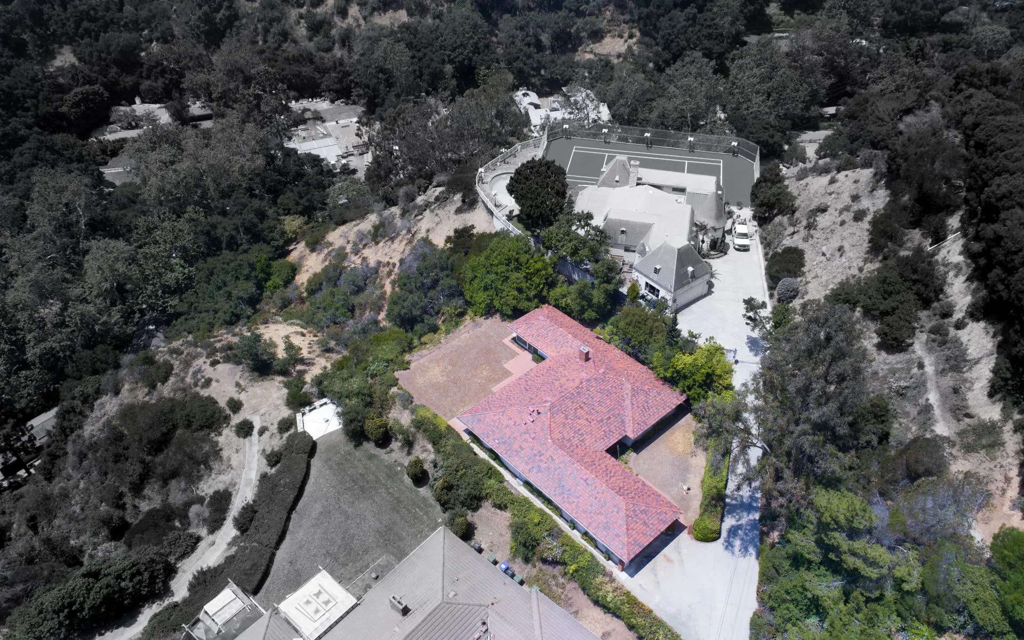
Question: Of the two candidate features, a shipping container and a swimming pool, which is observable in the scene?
swimming pool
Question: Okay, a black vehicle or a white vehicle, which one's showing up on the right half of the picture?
white vehicle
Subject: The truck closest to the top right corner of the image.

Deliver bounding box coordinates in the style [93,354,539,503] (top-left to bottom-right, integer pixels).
[727,220,752,248]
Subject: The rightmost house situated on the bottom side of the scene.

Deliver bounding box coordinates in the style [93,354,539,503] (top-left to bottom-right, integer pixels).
[457,303,688,565]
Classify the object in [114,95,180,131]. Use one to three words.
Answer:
house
